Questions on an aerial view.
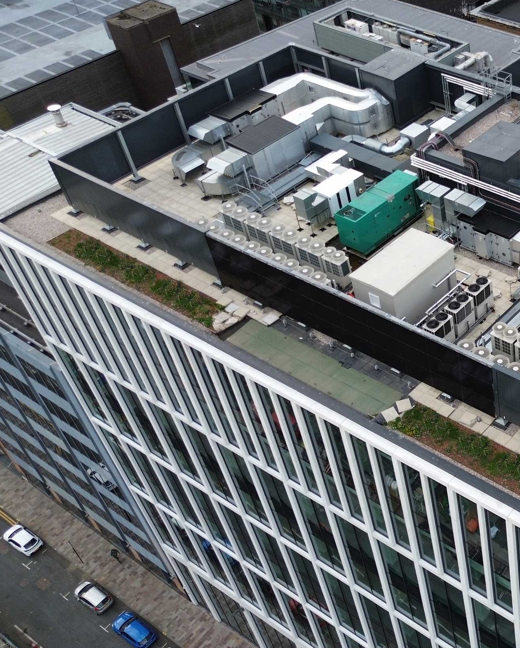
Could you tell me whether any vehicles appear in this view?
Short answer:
Yes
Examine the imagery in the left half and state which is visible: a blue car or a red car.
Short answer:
blue car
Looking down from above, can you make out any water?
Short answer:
No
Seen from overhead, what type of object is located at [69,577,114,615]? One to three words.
car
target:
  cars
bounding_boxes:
[108,607,157,648]
[69,577,114,615]
[1,521,44,557]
